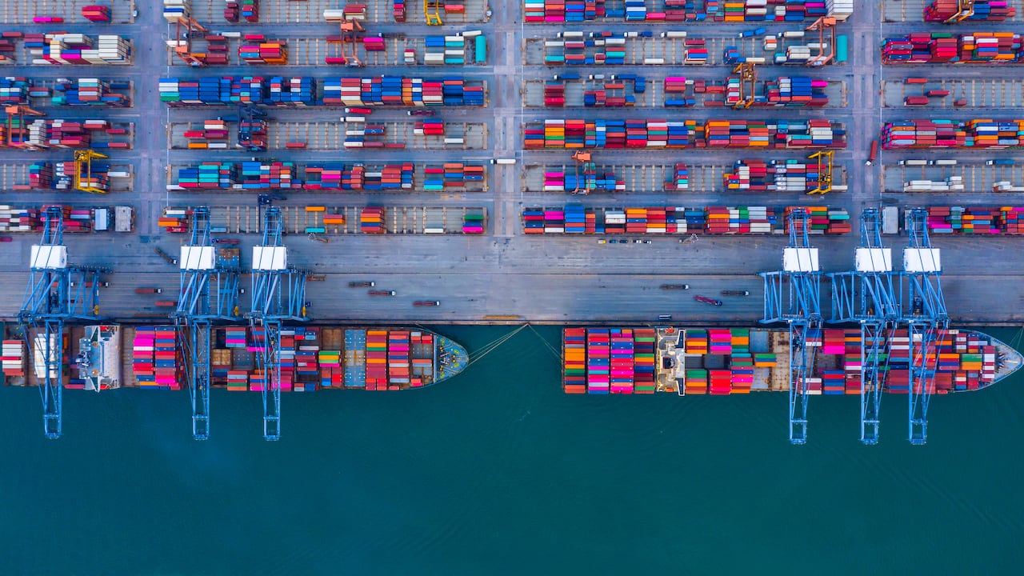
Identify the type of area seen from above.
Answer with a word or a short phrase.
port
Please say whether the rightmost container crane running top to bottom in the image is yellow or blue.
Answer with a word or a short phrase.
blue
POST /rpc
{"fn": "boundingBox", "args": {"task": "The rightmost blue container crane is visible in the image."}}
[882,207,950,445]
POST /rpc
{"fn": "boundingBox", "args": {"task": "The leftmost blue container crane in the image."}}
[17,204,108,439]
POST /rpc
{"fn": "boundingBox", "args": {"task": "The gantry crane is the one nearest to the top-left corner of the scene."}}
[6,106,44,151]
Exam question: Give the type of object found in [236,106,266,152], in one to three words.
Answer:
container crane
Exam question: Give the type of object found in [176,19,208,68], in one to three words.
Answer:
container crane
